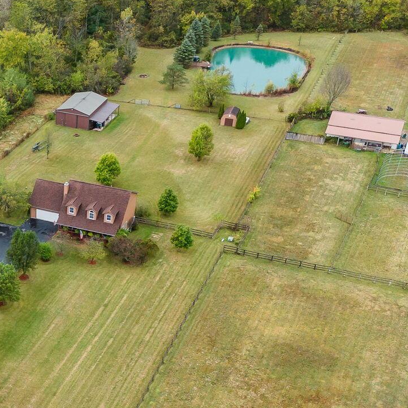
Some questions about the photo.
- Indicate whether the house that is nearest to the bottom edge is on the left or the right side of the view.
left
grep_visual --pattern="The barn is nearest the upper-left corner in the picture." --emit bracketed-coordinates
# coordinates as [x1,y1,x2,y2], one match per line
[56,90,117,134]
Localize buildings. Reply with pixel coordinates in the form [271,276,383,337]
[220,108,238,127]
[56,90,117,134]
[327,109,403,153]
[33,180,149,247]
